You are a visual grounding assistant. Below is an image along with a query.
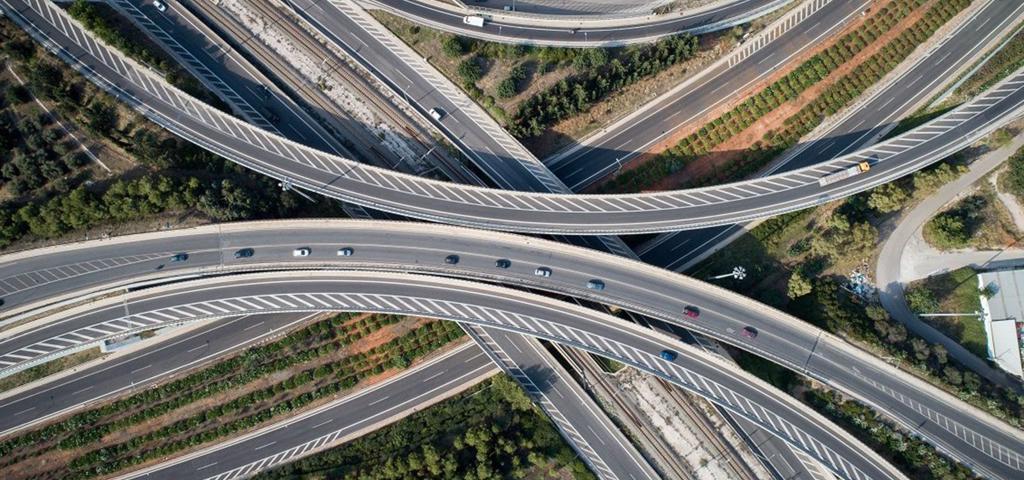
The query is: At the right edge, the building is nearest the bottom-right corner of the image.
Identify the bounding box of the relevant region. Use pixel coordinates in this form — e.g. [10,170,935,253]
[991,318,1022,377]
